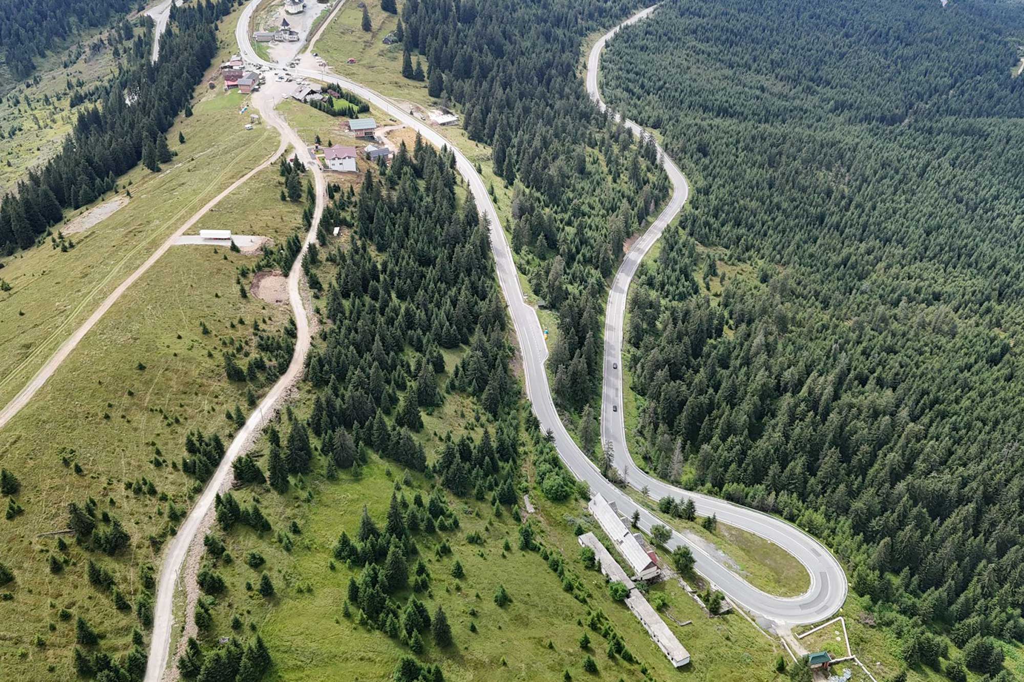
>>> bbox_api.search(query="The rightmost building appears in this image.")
[804,648,833,668]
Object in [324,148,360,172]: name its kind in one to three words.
house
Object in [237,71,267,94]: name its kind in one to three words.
house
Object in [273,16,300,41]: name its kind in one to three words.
building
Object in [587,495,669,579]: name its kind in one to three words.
building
